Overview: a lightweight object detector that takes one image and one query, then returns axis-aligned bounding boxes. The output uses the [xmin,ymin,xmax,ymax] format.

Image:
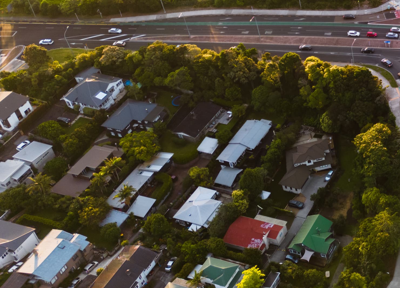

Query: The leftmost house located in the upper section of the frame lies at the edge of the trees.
[0,94,33,131]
